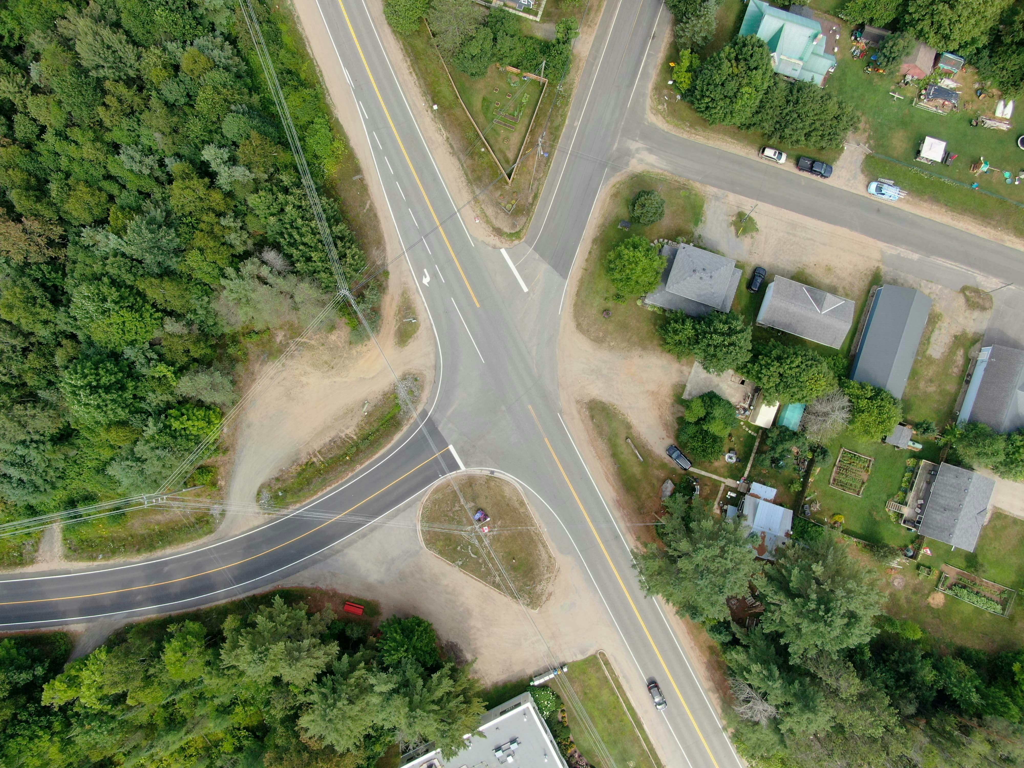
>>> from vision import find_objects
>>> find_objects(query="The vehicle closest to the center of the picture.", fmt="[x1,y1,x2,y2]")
[666,442,695,474]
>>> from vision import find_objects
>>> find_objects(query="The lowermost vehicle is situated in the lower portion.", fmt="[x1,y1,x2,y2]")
[645,676,669,713]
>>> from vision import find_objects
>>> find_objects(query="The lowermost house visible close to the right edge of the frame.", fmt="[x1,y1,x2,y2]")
[885,460,996,553]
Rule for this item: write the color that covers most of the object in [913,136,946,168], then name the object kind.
white tent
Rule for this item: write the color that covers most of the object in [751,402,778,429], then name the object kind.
white camper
